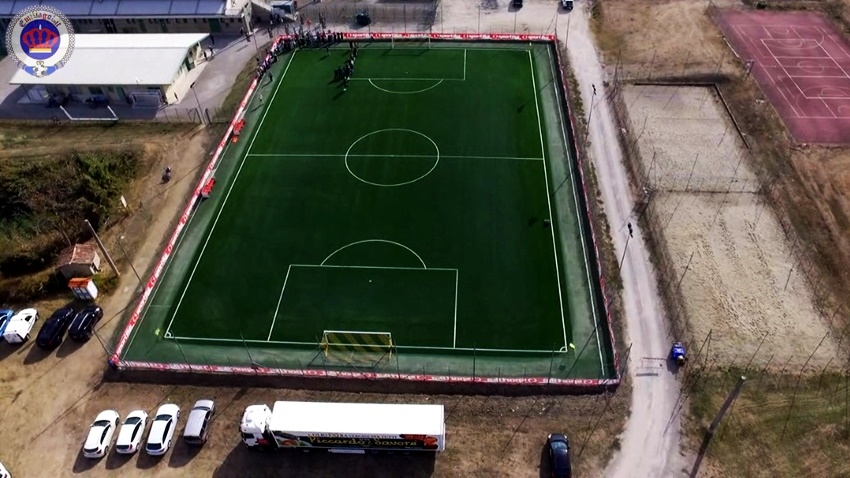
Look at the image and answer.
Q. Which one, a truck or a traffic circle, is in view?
truck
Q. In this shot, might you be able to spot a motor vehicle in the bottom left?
Yes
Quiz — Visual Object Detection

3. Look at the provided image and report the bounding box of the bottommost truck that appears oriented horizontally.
[239,402,444,456]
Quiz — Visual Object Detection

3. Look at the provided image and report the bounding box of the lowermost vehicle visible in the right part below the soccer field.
[545,434,573,478]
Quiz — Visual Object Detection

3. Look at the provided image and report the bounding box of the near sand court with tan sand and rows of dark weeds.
[648,191,848,367]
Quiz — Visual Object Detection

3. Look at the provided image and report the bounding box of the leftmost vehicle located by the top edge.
[356,12,373,24]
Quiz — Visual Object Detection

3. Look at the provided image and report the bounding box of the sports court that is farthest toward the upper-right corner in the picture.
[709,8,850,145]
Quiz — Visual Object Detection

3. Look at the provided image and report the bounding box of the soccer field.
[106,41,619,387]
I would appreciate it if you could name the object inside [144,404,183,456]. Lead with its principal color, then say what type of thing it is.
white car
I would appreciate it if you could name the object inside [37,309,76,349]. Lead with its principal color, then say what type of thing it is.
black car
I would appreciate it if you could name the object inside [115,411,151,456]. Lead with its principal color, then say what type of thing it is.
white car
